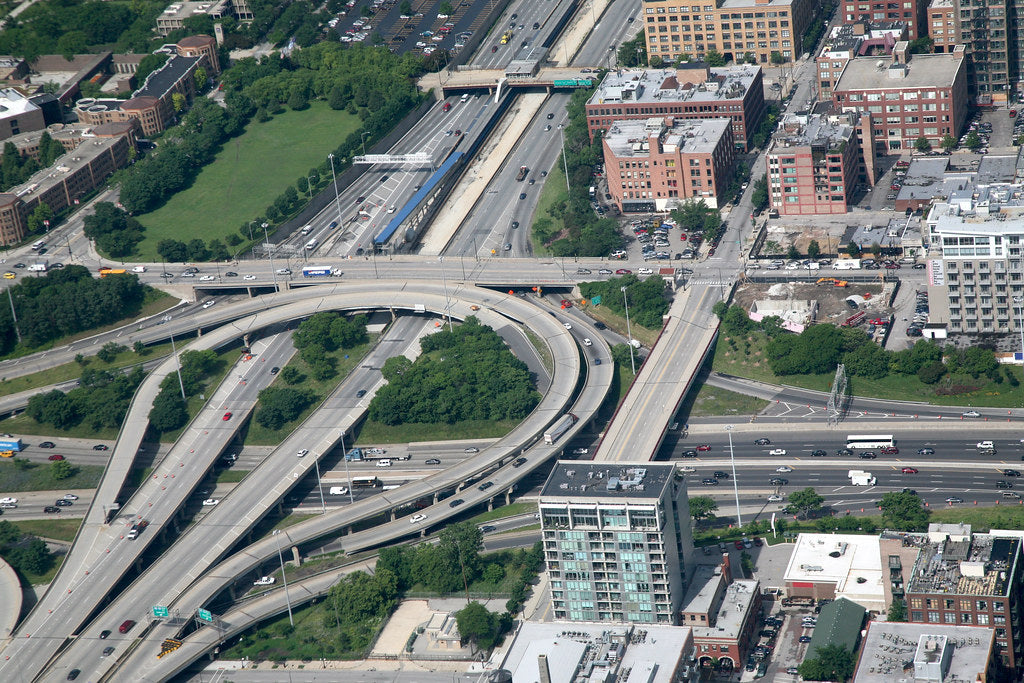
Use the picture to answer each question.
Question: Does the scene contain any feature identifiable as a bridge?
Yes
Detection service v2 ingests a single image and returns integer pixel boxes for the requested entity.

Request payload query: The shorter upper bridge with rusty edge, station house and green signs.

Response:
[430,64,614,96]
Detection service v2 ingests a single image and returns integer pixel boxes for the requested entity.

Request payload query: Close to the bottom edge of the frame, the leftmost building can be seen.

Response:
[427,613,474,655]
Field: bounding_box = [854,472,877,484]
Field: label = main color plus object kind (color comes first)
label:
white vehicle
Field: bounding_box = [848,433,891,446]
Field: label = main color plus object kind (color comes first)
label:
white vehicle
